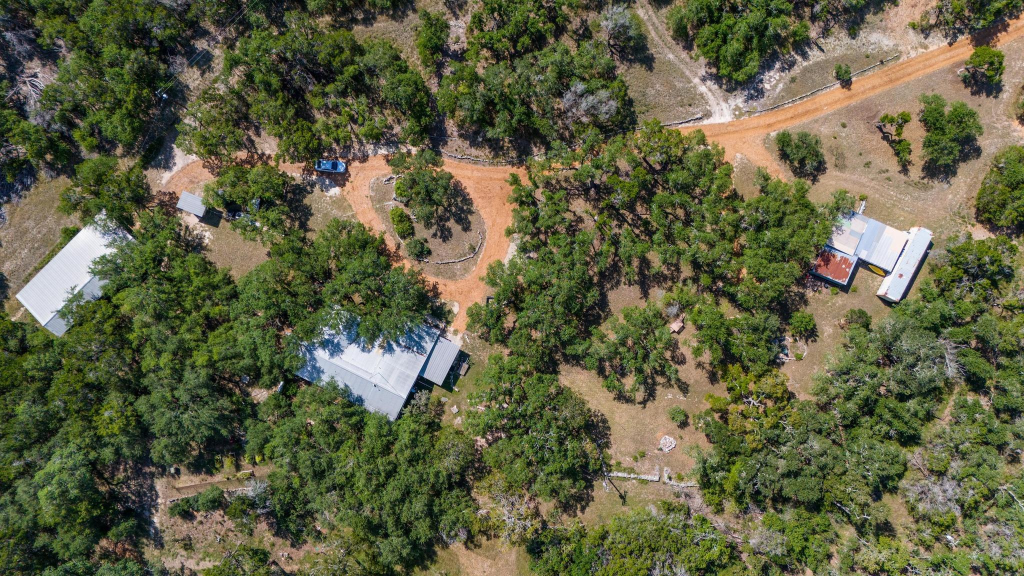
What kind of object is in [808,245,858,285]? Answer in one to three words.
shed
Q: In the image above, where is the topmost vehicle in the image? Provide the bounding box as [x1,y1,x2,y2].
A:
[314,159,345,173]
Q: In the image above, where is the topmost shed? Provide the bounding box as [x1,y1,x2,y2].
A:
[177,191,213,217]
